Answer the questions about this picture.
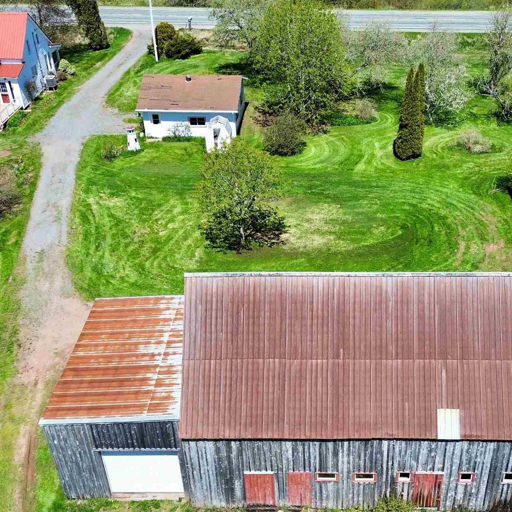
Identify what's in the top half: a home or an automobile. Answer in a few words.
home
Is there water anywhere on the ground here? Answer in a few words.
No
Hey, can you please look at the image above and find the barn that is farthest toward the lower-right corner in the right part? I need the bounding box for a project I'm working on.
[179,269,512,512]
